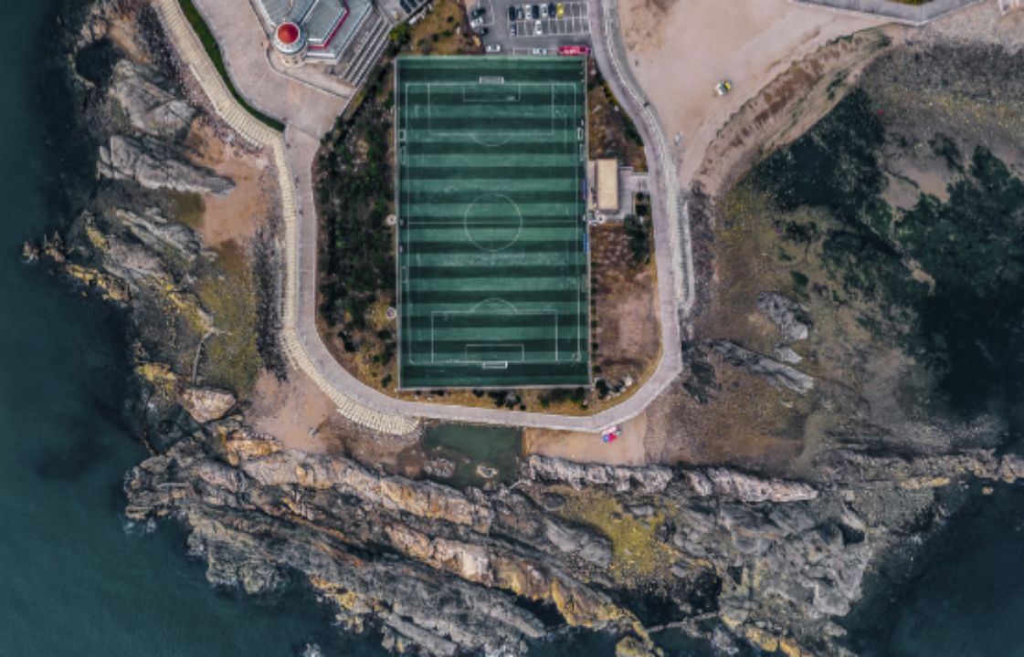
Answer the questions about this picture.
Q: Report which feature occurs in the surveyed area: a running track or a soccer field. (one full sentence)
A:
There is a soccer field in the scene.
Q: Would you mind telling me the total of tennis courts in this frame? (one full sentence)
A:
The count of tennis courts is 0.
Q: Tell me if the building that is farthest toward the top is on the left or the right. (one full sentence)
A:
It is on the left.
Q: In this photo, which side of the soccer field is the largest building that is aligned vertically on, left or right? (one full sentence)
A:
From the viewer's perspective, the largest building that is aligned vertically falls to the right of the soccer field.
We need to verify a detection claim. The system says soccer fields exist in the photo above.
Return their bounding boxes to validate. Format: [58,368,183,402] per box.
[398,55,589,388]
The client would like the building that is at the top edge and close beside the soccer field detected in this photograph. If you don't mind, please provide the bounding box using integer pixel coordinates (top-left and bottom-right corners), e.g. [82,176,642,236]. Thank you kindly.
[249,0,378,67]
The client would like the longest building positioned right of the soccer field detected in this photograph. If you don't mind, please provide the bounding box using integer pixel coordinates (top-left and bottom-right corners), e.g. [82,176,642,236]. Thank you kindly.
[597,158,619,211]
